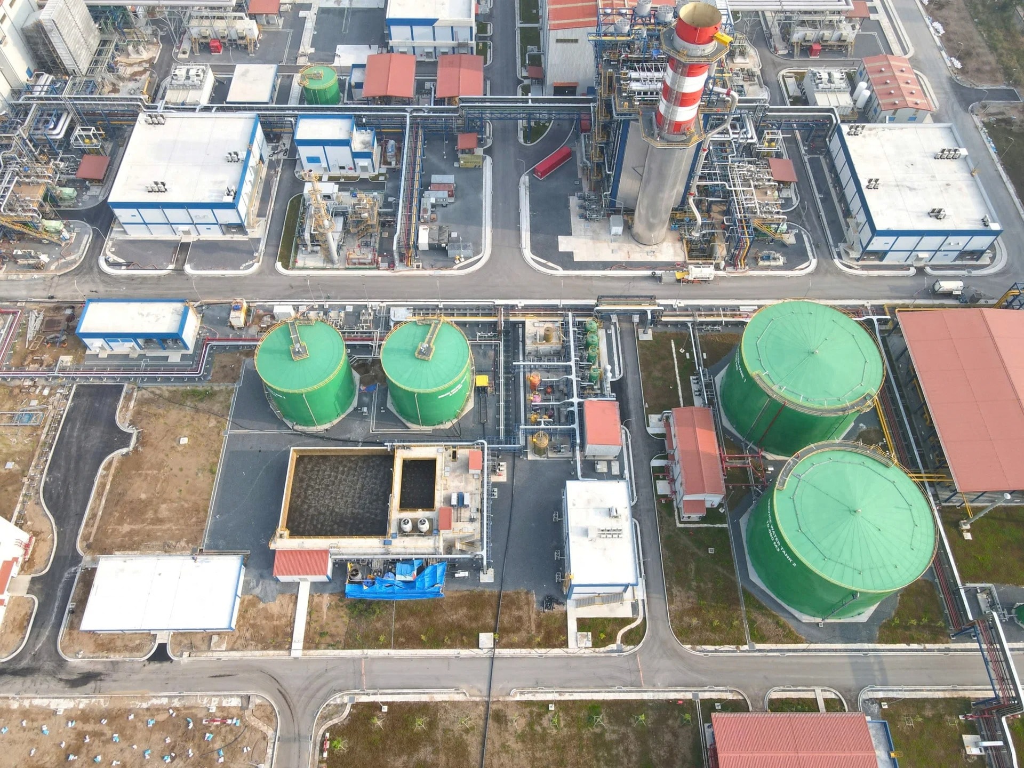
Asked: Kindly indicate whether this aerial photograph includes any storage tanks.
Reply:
Yes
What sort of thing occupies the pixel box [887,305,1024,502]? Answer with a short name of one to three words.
warehouse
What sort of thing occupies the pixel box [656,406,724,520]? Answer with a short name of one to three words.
building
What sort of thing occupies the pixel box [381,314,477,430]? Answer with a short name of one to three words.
storage tank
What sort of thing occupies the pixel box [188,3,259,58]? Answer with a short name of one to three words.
house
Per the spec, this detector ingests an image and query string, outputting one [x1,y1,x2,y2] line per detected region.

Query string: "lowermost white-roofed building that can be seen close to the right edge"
[824,124,1003,261]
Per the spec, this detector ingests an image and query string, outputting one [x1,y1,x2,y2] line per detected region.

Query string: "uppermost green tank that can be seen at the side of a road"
[295,55,343,102]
